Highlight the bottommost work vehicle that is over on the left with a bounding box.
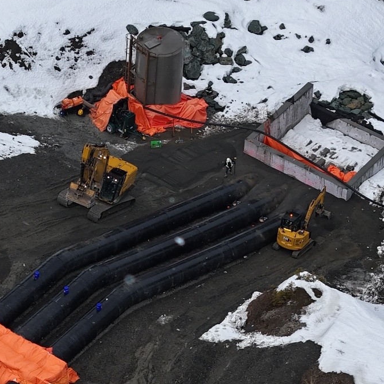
[58,148,149,232]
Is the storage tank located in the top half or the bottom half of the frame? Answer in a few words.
top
